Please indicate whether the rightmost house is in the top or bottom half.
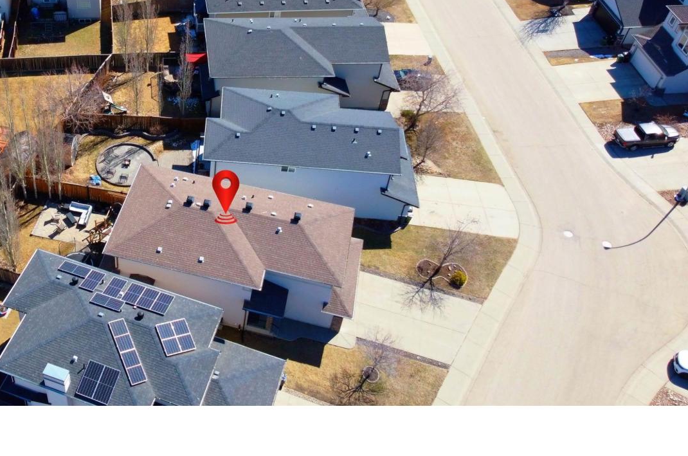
top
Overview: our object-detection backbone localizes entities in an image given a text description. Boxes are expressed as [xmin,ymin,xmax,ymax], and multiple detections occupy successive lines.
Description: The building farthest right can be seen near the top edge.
[626,0,688,97]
